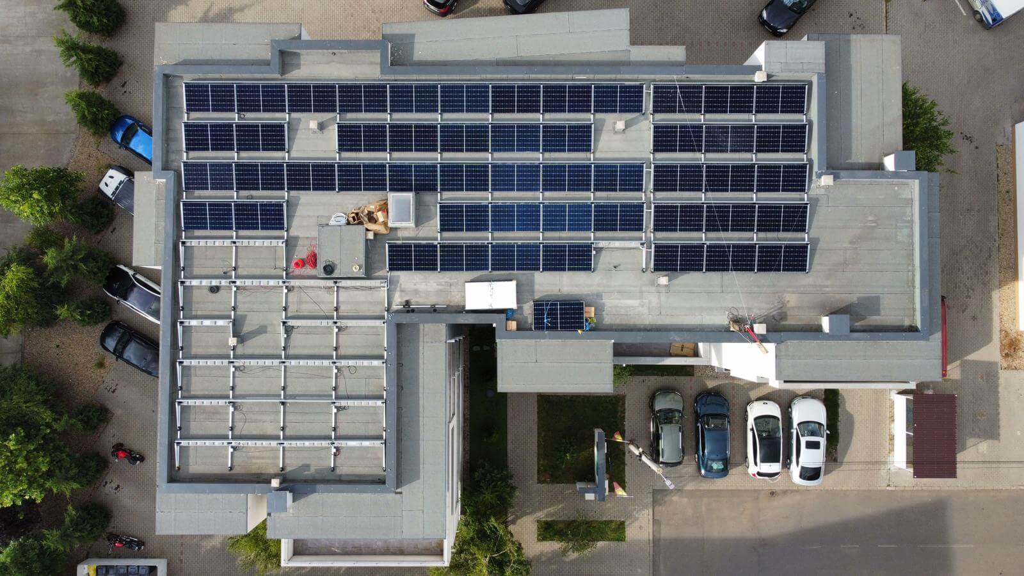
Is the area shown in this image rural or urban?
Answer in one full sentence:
This place is urban.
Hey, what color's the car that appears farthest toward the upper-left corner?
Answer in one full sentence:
The car that appears farthest toward the upper-left corner looks blue in the image.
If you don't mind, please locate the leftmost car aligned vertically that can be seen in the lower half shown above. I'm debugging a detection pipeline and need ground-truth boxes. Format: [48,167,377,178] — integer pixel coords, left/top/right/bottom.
[651,389,690,467]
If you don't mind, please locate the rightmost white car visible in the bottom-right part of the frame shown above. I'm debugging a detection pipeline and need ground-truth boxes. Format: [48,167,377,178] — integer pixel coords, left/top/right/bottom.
[788,397,832,485]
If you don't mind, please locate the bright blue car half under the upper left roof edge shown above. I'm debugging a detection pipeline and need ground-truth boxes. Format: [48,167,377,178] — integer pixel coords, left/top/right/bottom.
[108,113,153,163]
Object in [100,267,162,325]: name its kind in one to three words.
car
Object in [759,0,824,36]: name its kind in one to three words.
car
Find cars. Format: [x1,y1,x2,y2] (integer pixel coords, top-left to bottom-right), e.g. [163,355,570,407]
[692,392,733,478]
[508,0,547,15]
[99,326,161,385]
[744,401,786,481]
[424,0,464,19]
[100,267,162,325]
[759,0,824,36]
[99,166,135,213]
[108,113,153,163]
[651,389,690,467]
[788,397,832,485]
